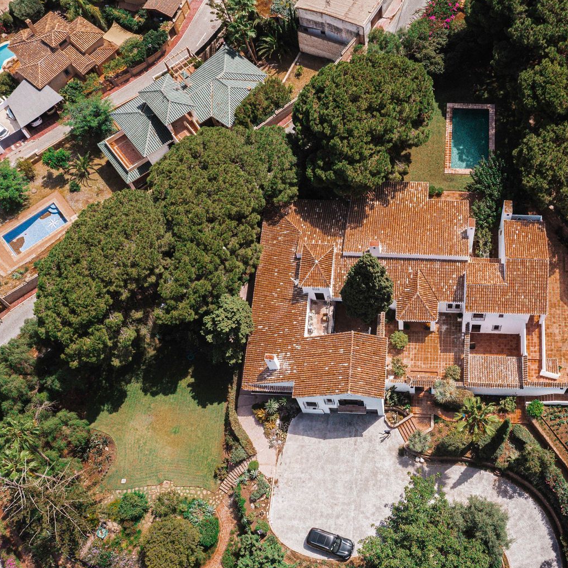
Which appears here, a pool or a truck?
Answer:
pool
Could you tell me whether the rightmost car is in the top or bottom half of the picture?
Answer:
bottom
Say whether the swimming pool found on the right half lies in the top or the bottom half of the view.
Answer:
top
